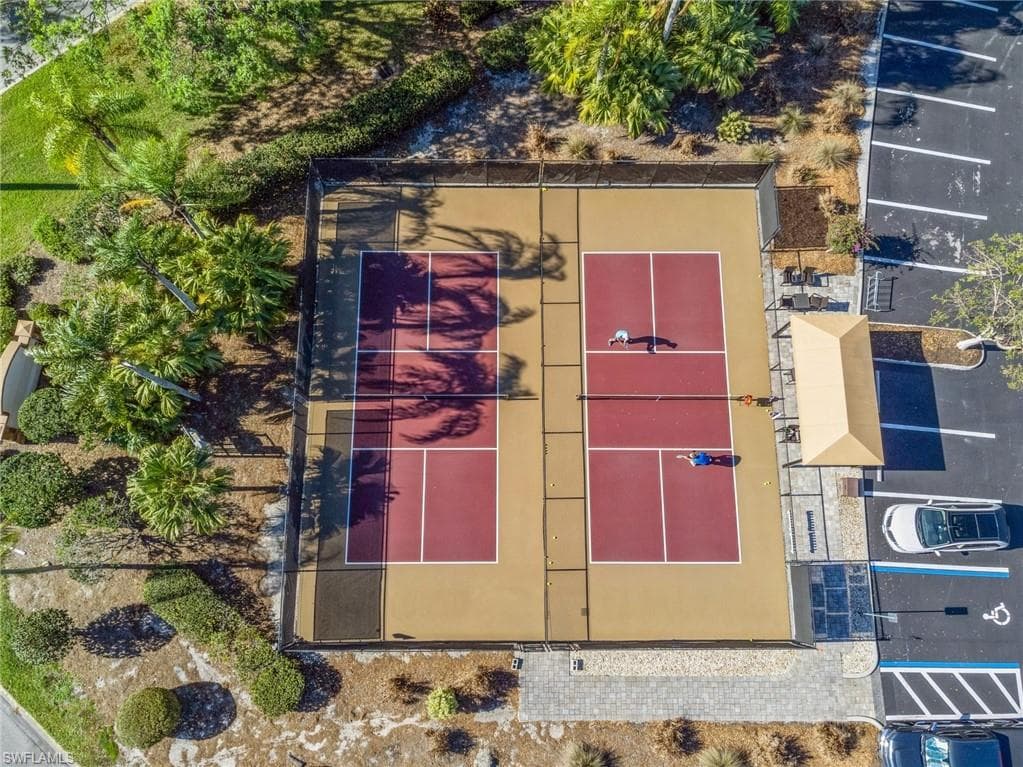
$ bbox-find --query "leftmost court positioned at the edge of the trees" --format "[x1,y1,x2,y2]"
[297,186,545,641]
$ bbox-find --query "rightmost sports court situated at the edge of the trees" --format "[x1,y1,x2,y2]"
[541,187,792,641]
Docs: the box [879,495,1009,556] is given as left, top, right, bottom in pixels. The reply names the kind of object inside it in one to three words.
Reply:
car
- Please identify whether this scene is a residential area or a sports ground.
sports ground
